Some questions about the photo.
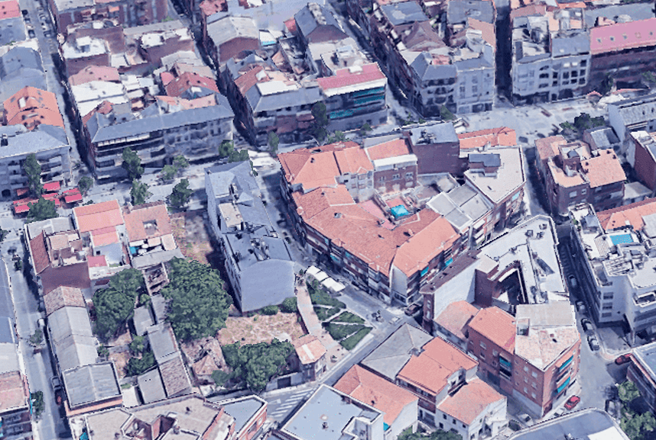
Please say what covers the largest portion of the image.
buildings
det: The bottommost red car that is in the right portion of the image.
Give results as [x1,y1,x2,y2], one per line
[565,397,580,410]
